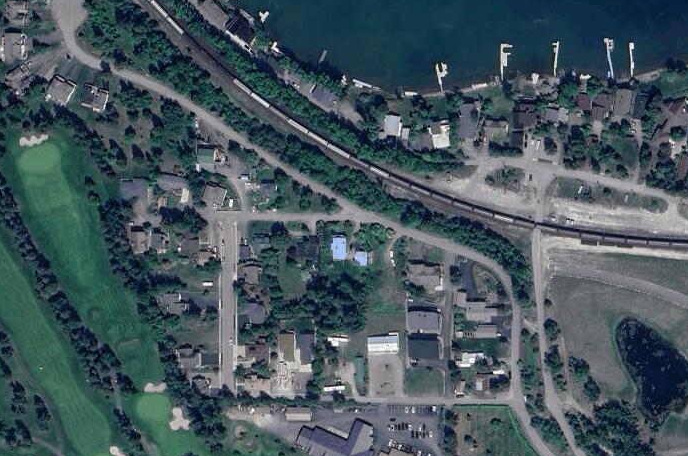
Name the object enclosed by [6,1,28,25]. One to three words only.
house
